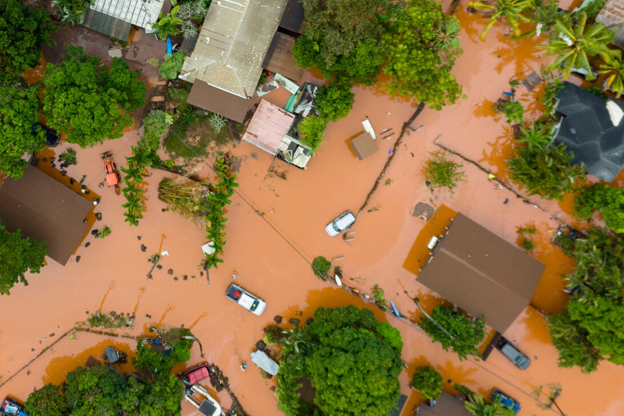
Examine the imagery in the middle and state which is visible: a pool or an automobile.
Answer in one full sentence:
Looking in the middle, you will find an automobile.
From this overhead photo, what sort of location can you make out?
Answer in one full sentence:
The area seen from above is a residential area.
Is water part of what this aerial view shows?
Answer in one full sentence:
Yes, water can be seen from above here.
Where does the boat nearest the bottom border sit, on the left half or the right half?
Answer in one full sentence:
The boat nearest the bottom border is on the left side of the image.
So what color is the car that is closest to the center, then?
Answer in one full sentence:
The car that is closest to the center is white.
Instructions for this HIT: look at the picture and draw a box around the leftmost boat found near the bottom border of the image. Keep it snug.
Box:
[181,384,223,416]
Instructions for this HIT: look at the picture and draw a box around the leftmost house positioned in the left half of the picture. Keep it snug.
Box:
[0,164,93,265]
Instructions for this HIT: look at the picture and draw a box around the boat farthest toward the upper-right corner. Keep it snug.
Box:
[363,118,376,139]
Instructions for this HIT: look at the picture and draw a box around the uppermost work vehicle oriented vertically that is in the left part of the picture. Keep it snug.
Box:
[98,145,123,196]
